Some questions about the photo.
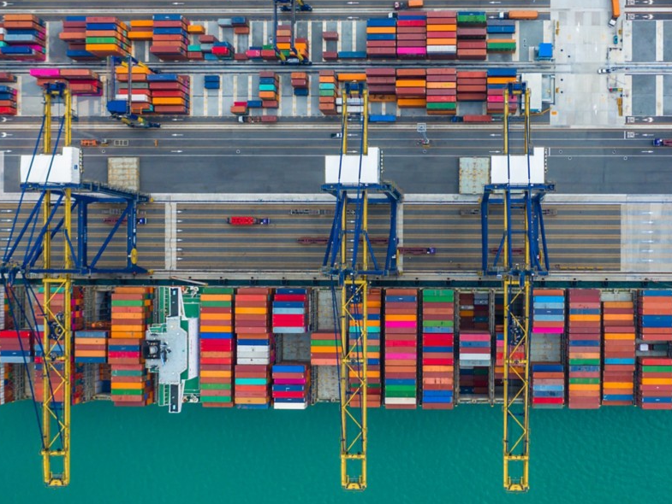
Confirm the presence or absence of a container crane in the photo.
Yes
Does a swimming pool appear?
No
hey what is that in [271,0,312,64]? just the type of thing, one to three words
crane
